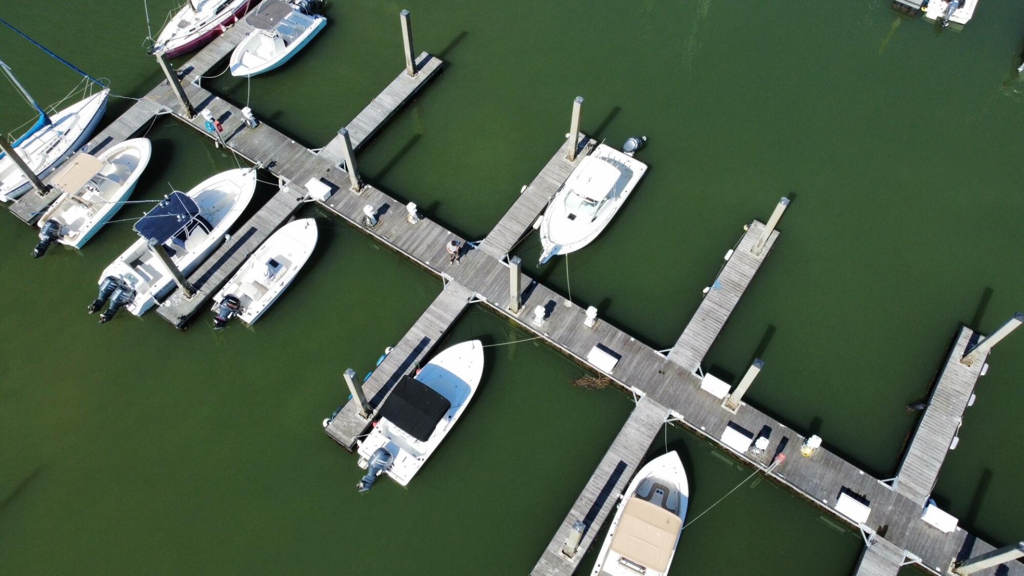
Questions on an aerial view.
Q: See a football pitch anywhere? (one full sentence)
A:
No, I find no football pitch anywhere in the image.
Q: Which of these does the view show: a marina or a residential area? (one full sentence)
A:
It's a marina.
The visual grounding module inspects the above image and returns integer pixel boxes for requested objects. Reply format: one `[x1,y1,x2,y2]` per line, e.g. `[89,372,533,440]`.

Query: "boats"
[141,0,263,57]
[41,157,257,331]
[353,336,488,507]
[924,0,982,37]
[34,139,154,267]
[536,136,648,258]
[210,218,323,334]
[226,0,332,80]
[586,448,687,576]
[0,14,107,216]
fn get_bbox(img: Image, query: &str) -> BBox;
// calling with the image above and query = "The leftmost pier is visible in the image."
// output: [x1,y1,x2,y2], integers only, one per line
[6,97,172,228]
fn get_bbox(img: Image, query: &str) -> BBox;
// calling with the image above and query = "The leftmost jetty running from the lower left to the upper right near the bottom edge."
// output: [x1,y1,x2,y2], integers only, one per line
[524,387,682,576]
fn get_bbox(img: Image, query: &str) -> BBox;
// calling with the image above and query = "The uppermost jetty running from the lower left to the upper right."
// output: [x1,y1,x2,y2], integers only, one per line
[175,4,263,87]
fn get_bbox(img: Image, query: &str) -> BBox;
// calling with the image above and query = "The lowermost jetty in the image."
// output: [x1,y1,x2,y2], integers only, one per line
[845,523,918,576]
